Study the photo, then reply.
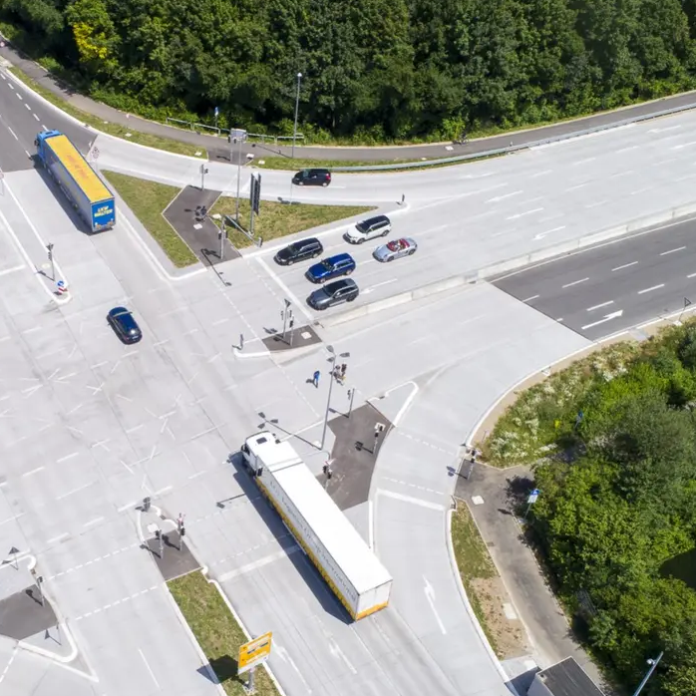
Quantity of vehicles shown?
9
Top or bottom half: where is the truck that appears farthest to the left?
top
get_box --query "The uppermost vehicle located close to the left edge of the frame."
[33,128,116,229]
